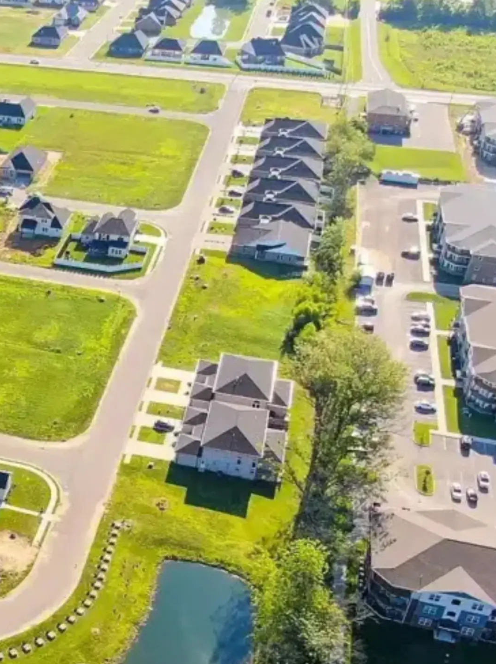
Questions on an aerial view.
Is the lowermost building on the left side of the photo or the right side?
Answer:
right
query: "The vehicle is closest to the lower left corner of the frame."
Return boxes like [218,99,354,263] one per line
[149,415,173,429]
